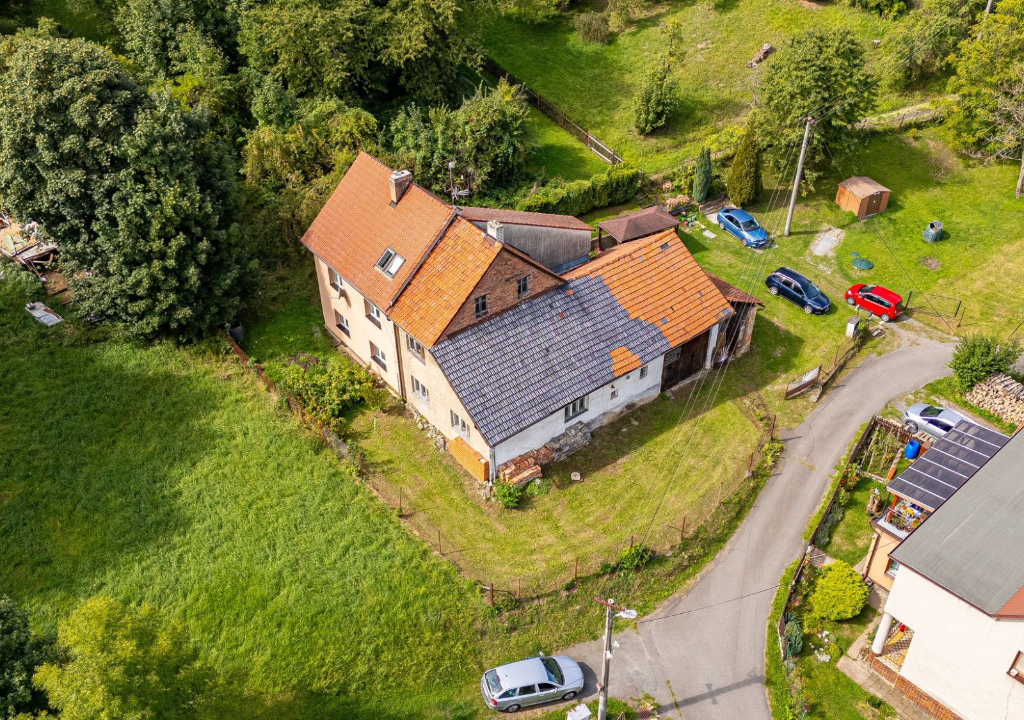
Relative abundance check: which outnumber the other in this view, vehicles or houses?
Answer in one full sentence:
The vehicles outnumber the houses.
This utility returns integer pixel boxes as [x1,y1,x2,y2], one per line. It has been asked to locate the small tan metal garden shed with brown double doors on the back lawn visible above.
[835,174,894,218]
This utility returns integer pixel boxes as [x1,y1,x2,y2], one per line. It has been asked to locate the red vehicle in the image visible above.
[846,282,911,322]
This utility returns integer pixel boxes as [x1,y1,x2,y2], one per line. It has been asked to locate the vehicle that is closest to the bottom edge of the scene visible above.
[481,648,591,713]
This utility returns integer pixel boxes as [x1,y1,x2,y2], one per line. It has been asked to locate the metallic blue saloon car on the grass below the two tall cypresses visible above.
[716,206,773,248]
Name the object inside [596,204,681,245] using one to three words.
gazebo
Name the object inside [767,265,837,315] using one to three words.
car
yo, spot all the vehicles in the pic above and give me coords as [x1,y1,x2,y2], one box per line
[716,206,773,248]
[481,648,591,713]
[846,282,911,322]
[904,405,975,448]
[767,265,837,315]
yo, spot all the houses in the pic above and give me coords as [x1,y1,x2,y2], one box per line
[387,209,737,484]
[867,440,1024,720]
